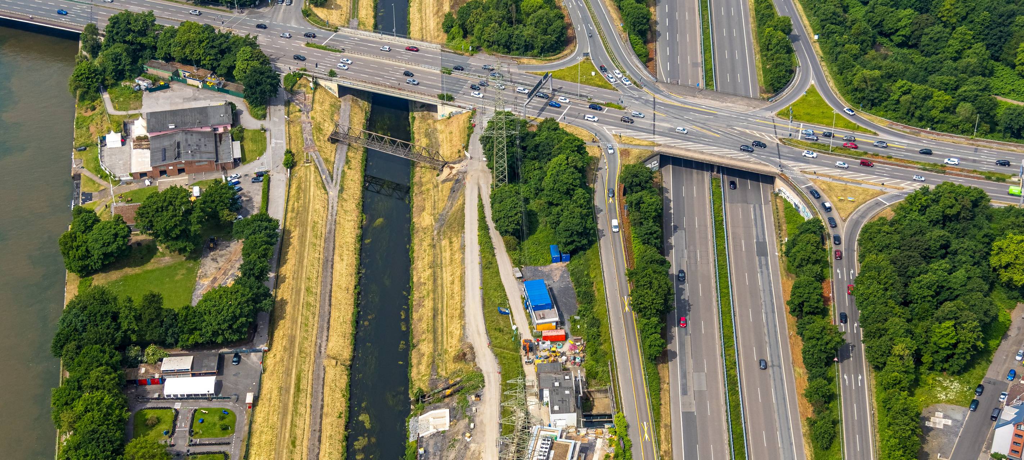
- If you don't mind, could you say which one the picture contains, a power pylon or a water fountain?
power pylon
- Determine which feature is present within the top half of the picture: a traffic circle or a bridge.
bridge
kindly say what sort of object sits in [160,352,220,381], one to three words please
shed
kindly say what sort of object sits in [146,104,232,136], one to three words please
building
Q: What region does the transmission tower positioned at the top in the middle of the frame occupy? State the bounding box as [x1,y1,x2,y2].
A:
[469,56,531,168]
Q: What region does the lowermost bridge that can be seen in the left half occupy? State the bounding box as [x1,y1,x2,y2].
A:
[328,126,448,177]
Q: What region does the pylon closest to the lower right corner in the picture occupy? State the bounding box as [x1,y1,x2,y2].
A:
[477,376,564,460]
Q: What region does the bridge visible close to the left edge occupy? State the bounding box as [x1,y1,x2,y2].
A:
[0,8,88,37]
